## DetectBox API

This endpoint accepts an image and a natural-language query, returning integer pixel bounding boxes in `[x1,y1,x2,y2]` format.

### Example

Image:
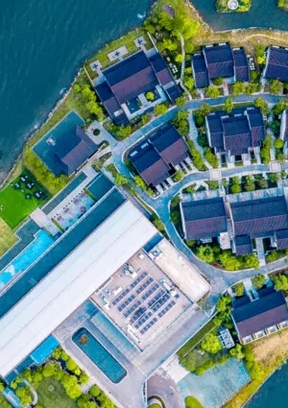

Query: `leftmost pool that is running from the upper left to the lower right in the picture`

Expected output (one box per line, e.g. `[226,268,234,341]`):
[3,388,22,408]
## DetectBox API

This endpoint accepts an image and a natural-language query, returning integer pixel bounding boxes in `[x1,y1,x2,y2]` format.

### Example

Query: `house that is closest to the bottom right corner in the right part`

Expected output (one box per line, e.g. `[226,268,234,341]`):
[230,277,288,347]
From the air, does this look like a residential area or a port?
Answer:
residential area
